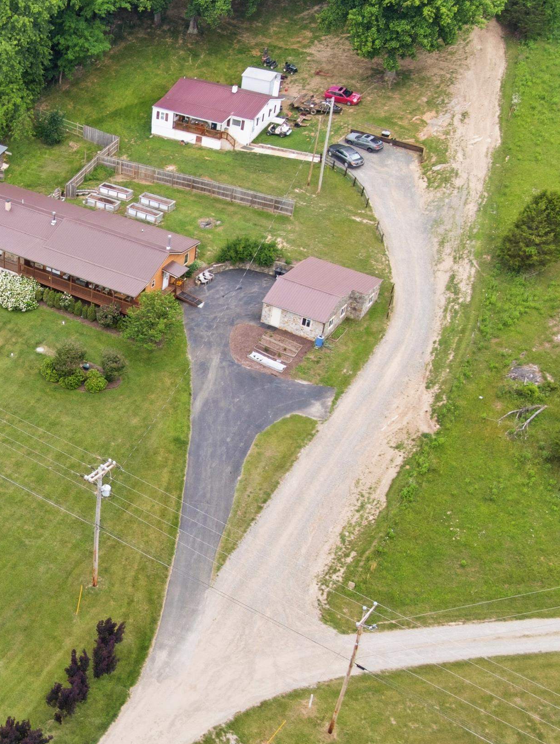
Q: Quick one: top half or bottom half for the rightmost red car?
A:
top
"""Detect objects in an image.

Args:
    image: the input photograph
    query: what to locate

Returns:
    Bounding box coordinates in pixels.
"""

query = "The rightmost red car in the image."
[321,85,359,105]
